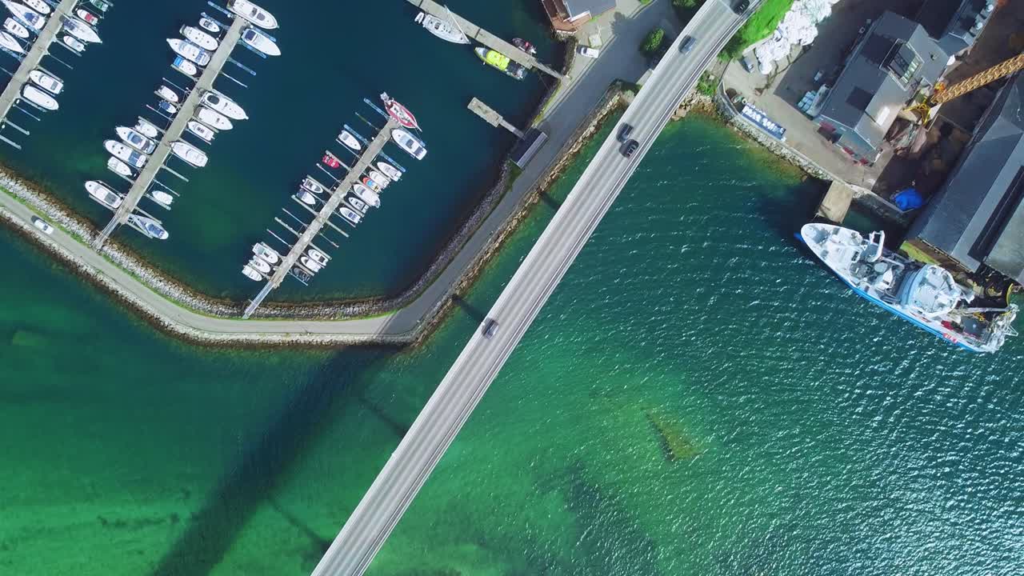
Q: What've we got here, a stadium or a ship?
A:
ship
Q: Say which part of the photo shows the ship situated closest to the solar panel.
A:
right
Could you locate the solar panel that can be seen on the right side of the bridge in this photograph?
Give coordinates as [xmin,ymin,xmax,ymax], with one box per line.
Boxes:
[845,86,874,110]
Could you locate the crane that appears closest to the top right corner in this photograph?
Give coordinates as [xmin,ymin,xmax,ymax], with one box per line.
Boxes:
[900,50,1024,122]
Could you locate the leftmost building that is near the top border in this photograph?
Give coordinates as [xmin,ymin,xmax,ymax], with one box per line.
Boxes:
[543,0,616,33]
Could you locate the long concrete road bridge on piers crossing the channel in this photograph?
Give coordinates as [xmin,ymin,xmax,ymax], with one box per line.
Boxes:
[311,0,762,576]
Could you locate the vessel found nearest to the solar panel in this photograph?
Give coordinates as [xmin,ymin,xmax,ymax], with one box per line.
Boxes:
[794,215,1018,356]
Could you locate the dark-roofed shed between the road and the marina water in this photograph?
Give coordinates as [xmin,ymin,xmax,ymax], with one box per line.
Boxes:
[503,121,551,171]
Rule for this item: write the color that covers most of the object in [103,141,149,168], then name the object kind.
white boat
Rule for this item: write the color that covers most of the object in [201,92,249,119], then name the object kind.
white boat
